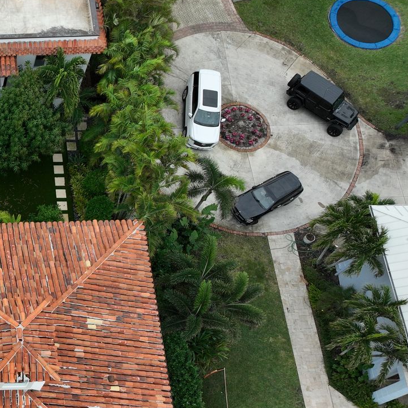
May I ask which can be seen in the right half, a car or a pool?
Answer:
car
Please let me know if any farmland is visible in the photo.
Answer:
No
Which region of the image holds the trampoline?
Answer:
top right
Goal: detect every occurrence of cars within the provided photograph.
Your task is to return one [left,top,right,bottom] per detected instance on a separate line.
[183,63,228,152]
[281,70,361,138]
[228,164,314,231]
